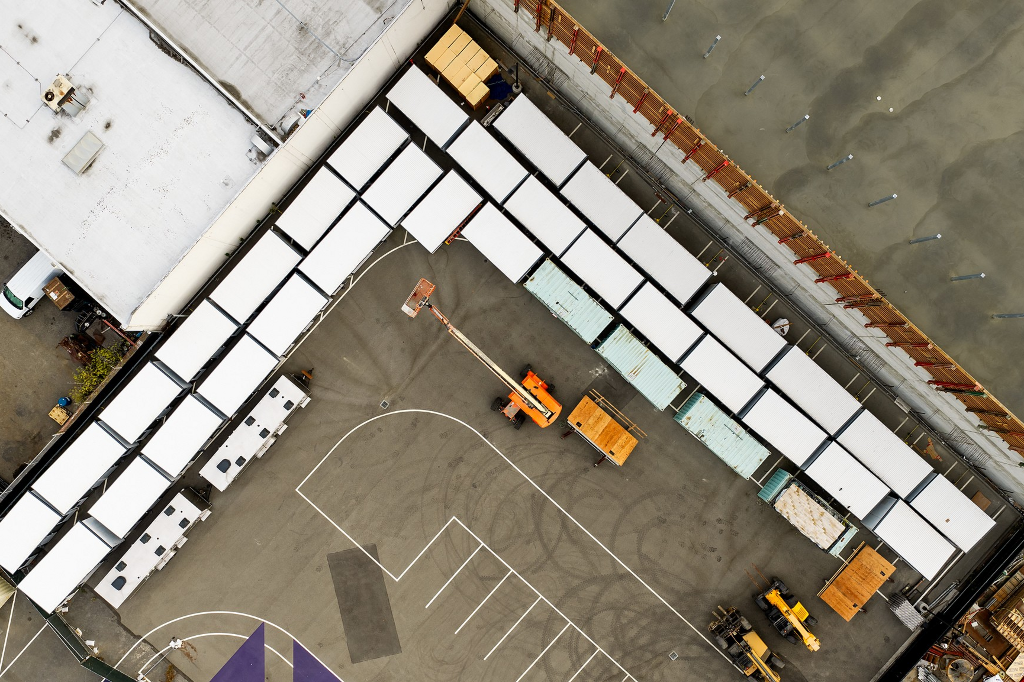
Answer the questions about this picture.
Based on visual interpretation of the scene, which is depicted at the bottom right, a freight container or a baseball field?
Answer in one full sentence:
Visible at the bottom right is a freight container.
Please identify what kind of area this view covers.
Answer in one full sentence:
This looks like an industrial area.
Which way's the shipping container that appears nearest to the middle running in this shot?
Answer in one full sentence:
The shipping container that appears nearest to the middle is laid out at an angle.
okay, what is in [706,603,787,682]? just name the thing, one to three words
work vehicle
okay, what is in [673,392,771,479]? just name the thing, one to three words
shipping container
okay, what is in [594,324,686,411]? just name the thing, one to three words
shipping container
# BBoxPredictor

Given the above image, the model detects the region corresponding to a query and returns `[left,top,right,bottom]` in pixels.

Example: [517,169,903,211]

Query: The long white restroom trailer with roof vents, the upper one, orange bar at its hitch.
[199,365,316,492]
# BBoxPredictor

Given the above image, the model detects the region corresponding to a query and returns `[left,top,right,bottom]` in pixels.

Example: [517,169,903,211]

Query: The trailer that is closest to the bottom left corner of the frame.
[96,483,214,609]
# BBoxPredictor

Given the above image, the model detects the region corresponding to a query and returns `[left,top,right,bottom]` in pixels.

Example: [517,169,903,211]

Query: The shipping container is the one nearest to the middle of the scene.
[523,258,613,343]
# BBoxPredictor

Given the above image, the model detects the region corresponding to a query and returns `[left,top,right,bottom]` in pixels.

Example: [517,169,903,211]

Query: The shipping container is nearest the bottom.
[756,467,859,557]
